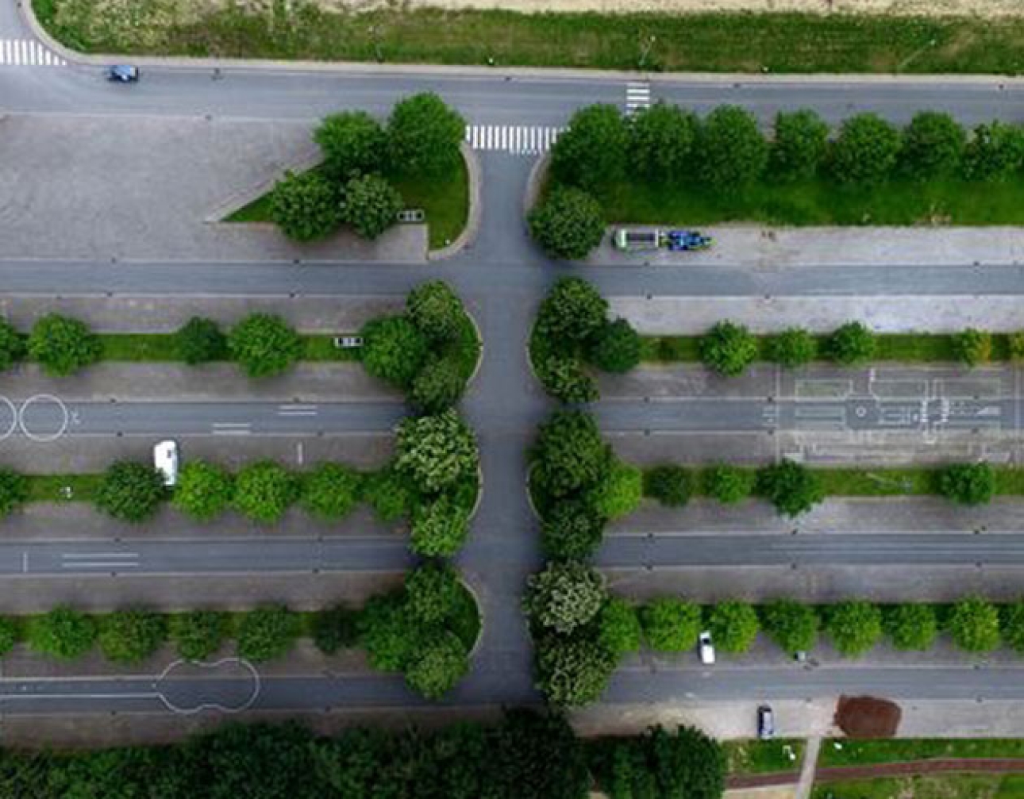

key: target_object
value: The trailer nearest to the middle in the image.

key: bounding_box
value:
[614,228,667,247]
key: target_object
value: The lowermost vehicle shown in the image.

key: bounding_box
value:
[757,709,773,739]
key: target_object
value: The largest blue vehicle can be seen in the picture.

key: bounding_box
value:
[665,225,713,250]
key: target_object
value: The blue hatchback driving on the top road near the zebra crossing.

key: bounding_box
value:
[107,63,136,79]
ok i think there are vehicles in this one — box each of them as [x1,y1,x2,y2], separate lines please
[665,225,713,250]
[153,443,178,484]
[107,63,136,79]
[757,709,773,739]
[697,631,713,663]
